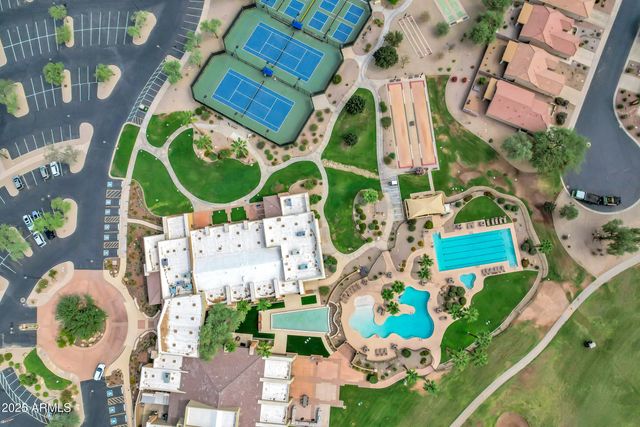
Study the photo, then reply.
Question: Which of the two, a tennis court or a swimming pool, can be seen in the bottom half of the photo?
swimming pool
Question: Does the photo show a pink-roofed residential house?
Yes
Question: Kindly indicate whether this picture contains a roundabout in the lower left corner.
Yes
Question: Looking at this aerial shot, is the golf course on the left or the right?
right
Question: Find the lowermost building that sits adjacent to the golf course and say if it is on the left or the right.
left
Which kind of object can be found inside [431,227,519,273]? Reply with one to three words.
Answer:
swimming pool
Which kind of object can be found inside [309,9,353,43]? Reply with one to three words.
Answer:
sports court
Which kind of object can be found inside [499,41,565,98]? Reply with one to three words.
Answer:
house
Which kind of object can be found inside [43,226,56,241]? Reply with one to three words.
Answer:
vehicle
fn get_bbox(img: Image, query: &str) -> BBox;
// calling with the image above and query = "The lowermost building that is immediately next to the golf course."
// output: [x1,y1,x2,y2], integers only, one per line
[135,348,299,427]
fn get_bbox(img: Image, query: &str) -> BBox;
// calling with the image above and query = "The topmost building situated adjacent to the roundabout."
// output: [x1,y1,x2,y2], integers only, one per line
[144,193,325,357]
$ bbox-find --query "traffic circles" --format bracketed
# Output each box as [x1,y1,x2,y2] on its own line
[37,269,128,381]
